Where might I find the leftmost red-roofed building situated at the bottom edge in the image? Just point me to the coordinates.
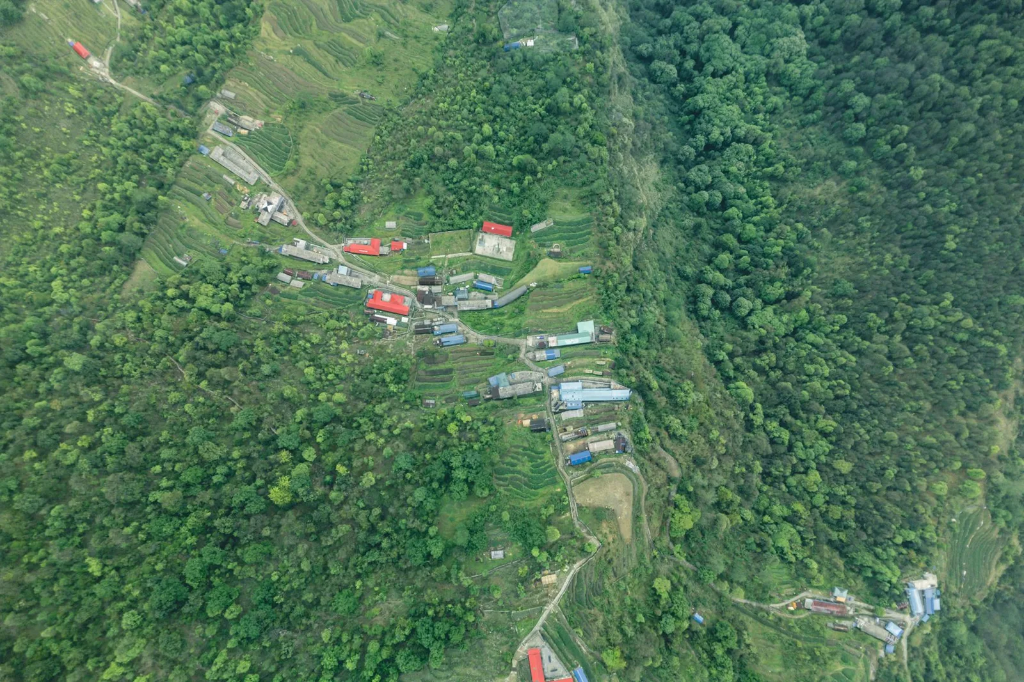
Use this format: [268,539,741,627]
[528,645,573,682]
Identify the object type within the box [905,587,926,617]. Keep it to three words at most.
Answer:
building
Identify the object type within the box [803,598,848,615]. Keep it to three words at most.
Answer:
house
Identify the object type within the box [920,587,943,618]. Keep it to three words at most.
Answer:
house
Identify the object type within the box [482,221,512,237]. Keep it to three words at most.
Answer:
building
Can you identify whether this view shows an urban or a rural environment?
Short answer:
rural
